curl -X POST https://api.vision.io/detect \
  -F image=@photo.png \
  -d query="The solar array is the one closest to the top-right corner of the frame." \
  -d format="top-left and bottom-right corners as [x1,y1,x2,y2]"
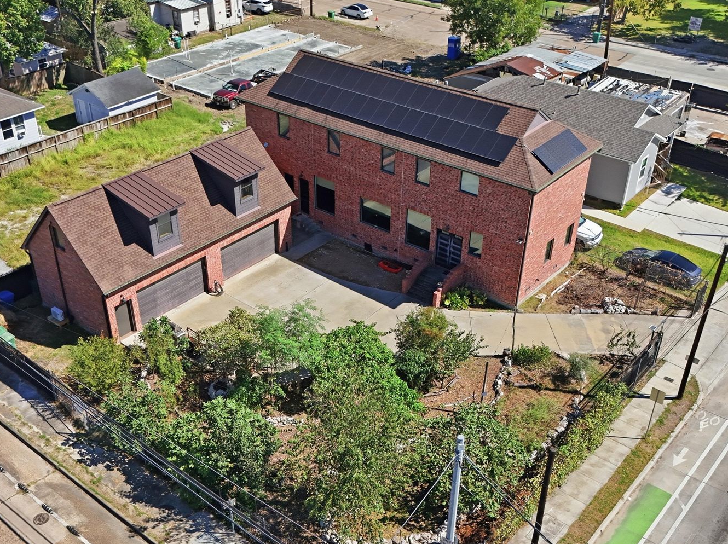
[533,130,589,175]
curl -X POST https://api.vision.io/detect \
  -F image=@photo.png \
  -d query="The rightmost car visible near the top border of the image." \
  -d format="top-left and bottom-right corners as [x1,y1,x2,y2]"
[337,3,375,21]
